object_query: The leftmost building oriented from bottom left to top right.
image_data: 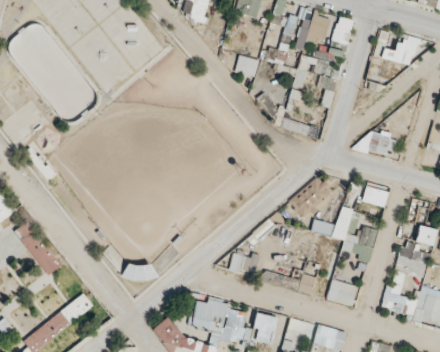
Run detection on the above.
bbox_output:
[24,294,92,352]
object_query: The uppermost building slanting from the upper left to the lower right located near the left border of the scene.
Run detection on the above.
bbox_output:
[16,224,58,274]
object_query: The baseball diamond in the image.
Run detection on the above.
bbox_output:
[53,101,244,258]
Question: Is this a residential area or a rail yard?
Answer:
residential area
